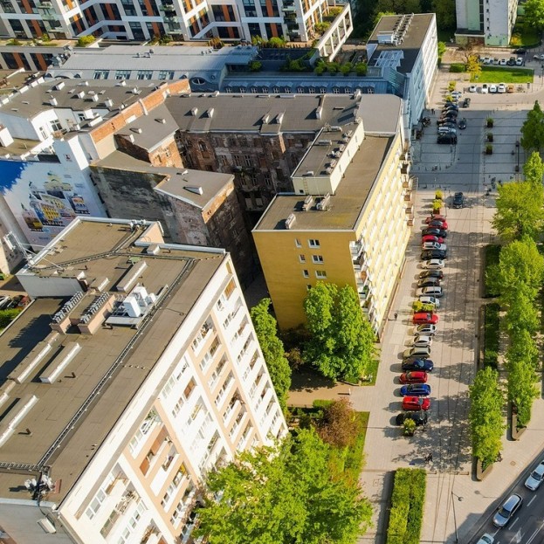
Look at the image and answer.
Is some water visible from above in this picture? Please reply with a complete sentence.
No, the scene doesn't show any water.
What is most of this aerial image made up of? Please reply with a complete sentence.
For the most part, this view shows buildings.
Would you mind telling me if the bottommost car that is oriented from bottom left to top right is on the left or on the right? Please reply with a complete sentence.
The bottommost car that is oriented from bottom left to top right sits on the right side.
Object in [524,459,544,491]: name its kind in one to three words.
car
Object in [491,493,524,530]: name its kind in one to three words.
car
